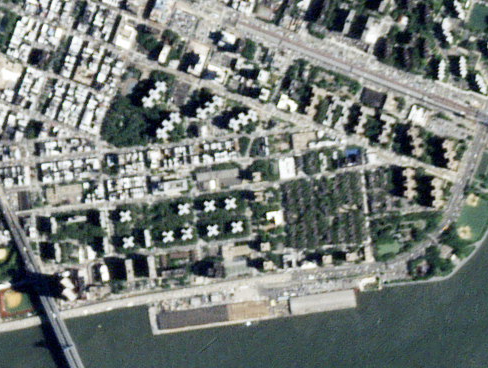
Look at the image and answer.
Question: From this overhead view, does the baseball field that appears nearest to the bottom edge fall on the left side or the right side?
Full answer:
You can find the baseball field that appears nearest to the bottom edge on the left side of the picture.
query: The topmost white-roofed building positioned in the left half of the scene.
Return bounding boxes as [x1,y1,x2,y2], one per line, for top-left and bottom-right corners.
[151,0,174,24]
